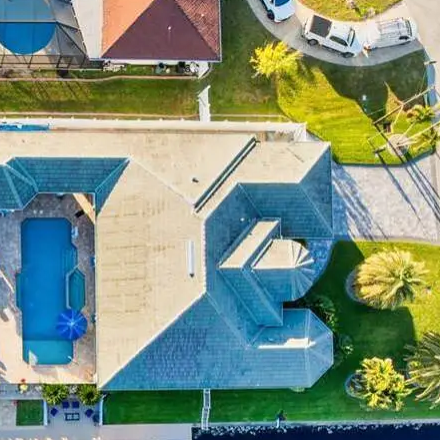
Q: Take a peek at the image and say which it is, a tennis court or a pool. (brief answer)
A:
pool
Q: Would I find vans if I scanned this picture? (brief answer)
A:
Yes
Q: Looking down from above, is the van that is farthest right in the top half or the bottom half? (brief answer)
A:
top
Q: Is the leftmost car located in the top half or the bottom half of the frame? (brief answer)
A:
top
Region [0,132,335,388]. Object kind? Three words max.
house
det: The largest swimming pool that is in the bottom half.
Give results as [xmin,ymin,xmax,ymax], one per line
[13,214,80,367]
